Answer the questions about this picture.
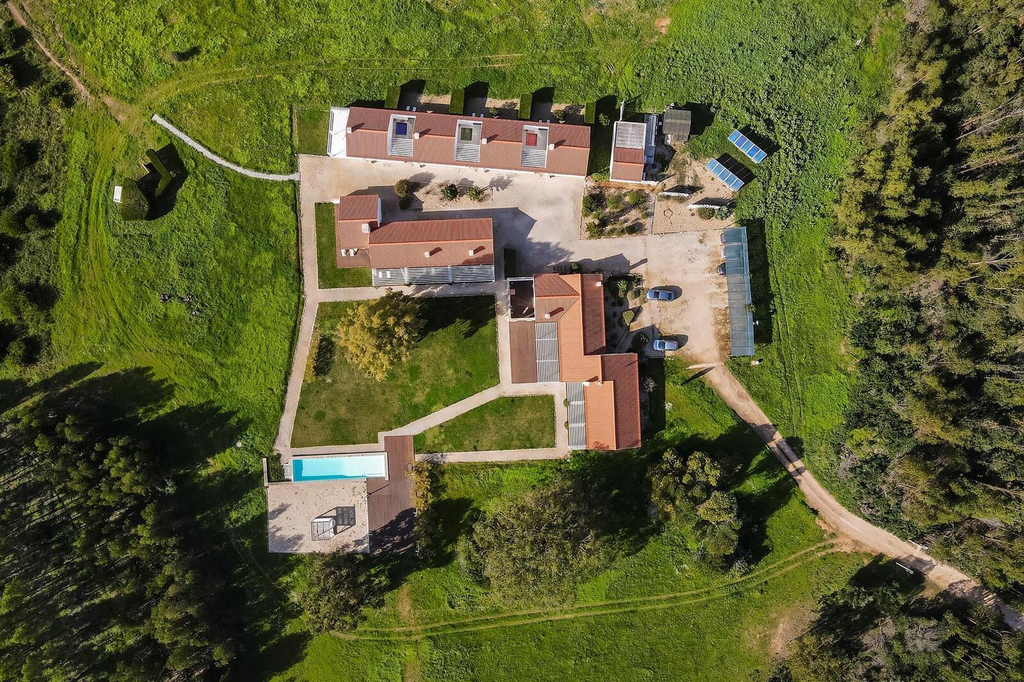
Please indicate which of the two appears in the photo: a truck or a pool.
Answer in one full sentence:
It is a pool that can be seen here.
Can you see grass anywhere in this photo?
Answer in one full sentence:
Yes, the picture does contain grass.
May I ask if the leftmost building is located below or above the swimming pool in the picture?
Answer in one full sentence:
Within the scene, the leftmost building can be found below the swimming pool.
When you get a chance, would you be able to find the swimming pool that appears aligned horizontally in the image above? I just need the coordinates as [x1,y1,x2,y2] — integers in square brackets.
[290,452,390,483]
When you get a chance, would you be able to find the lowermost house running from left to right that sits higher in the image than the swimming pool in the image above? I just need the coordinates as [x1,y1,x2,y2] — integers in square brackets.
[338,194,494,270]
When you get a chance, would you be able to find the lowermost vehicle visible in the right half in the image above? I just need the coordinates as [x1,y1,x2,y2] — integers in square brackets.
[655,339,679,351]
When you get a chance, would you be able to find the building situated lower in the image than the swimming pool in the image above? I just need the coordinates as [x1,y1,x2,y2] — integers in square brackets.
[267,481,370,554]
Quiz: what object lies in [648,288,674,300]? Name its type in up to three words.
vehicle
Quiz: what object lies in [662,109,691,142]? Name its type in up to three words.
shed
